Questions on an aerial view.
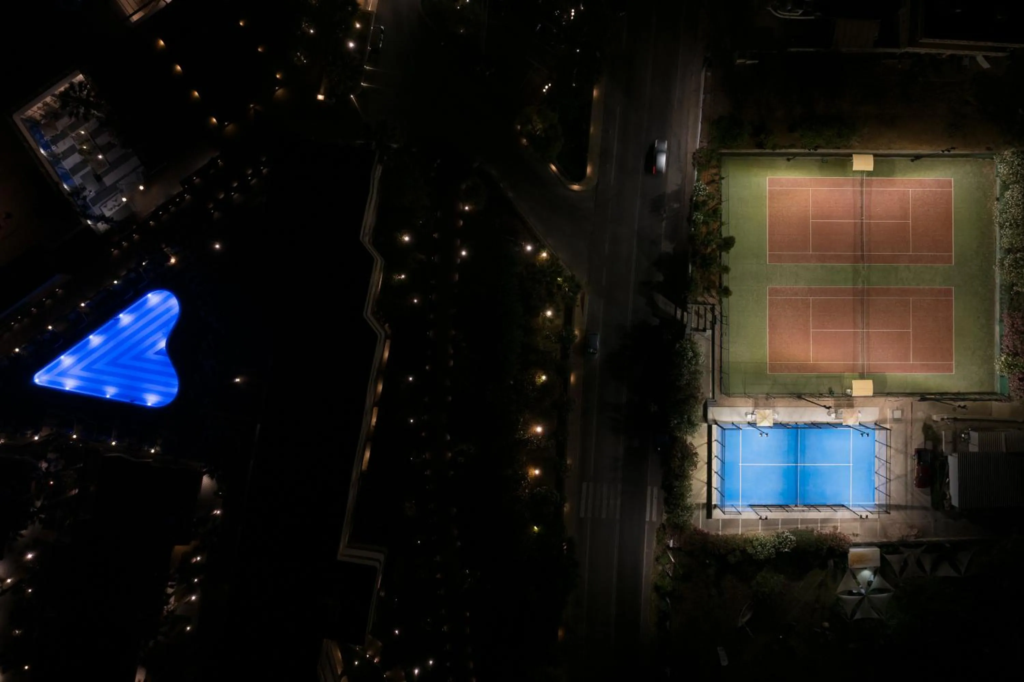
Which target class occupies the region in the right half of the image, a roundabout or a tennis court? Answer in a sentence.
The feature located in the right half of the image is a tennis court.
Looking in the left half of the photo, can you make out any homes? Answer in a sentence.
Yes, looking in the left half of the photo, one can make out a home.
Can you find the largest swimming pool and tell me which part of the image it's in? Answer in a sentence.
Look in the left portion of the view to spot the largest swimming pool.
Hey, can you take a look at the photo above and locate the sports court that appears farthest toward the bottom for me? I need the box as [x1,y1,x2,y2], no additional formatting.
[715,423,892,515]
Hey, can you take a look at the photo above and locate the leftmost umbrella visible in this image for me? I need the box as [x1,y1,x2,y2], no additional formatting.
[756,410,772,426]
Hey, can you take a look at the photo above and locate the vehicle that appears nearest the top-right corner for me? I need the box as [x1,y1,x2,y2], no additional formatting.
[652,140,669,175]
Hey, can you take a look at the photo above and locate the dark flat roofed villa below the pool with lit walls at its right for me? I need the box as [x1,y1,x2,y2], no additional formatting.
[69,464,210,633]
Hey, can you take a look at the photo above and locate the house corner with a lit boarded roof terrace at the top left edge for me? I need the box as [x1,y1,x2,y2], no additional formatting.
[122,0,188,31]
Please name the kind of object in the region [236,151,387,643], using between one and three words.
building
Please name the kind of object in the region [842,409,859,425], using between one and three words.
umbrella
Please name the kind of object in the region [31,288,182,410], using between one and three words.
swimming pool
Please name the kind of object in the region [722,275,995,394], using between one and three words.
tennis court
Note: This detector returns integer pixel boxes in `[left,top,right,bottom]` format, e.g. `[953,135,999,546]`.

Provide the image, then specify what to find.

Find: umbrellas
[756,410,772,426]
[842,409,859,425]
